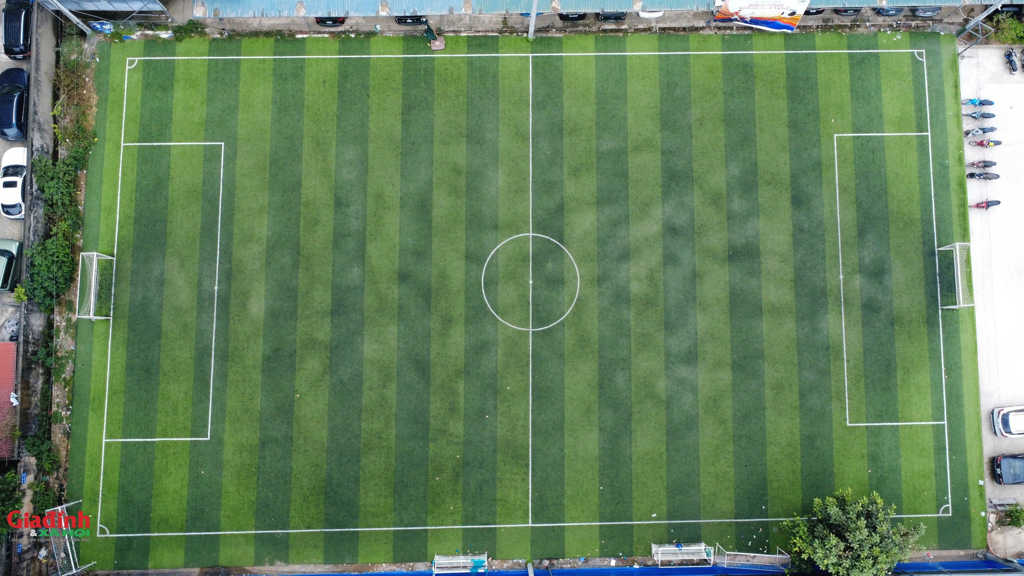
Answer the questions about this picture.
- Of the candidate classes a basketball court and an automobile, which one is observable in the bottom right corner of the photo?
automobile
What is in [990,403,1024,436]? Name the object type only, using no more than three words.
car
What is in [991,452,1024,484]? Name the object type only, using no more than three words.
car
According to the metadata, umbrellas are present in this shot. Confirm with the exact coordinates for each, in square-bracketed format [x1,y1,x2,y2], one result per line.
[422,12,445,50]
